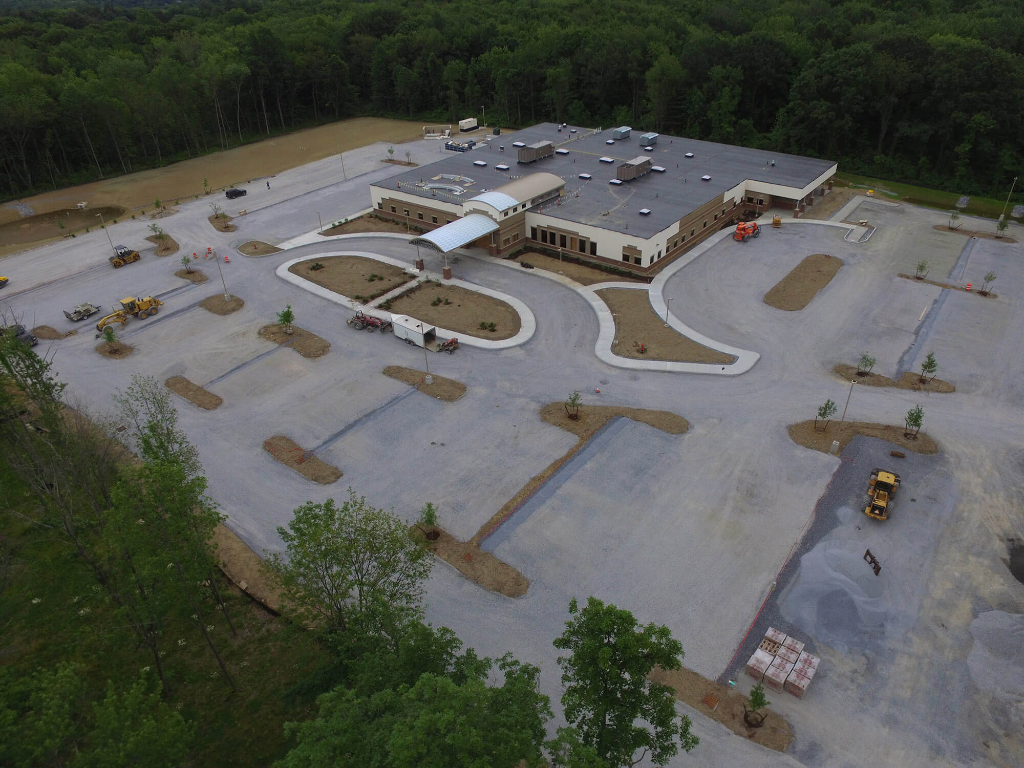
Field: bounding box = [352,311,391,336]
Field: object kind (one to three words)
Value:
work vehicle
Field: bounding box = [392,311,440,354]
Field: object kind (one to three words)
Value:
trailer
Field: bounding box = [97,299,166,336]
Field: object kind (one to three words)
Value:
work vehicle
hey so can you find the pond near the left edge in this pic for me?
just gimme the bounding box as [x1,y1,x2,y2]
[0,207,126,246]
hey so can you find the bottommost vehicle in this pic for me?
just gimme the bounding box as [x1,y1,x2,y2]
[863,467,903,520]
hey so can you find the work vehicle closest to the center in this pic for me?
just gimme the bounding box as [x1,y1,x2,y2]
[437,335,460,354]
